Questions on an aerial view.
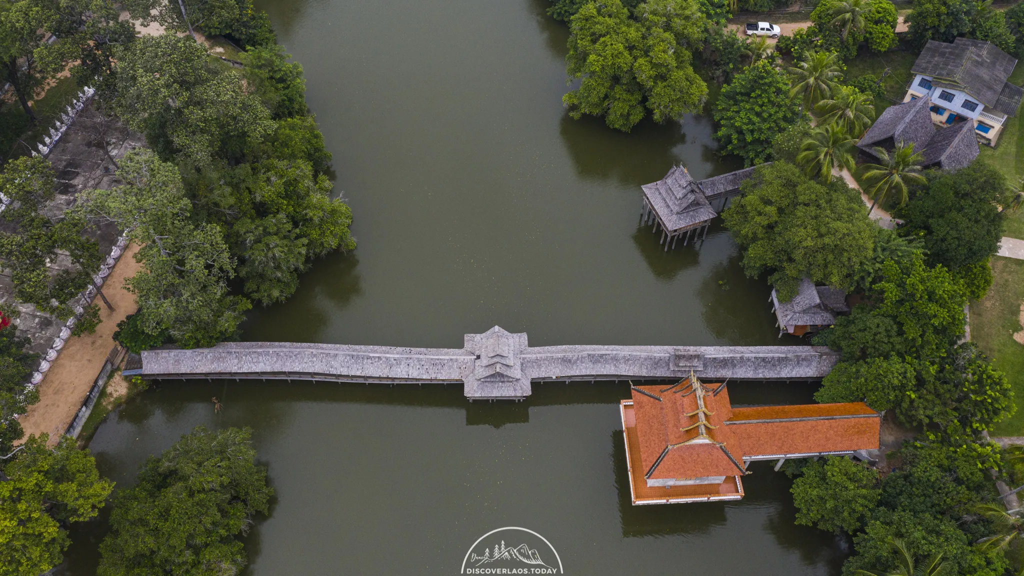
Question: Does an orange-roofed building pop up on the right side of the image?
Yes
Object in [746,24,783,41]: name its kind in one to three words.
vehicle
